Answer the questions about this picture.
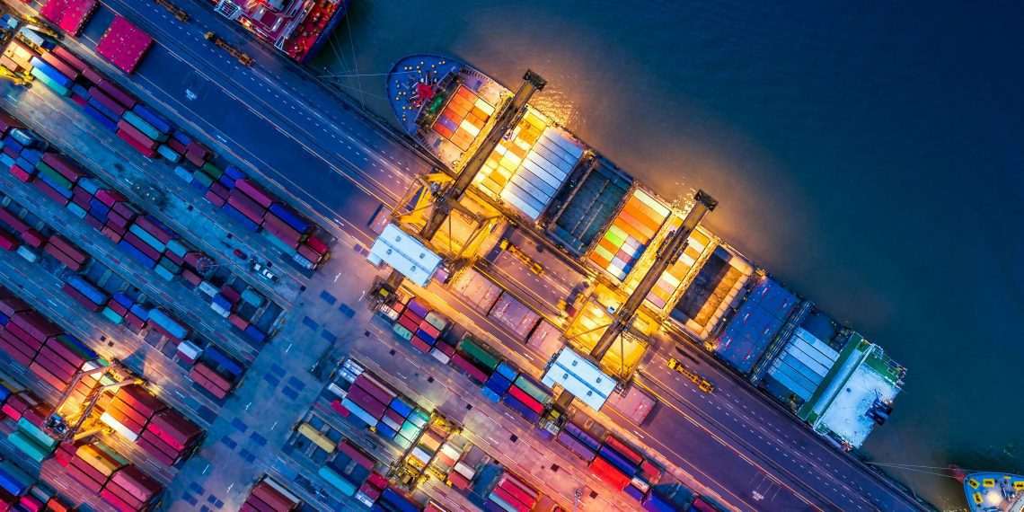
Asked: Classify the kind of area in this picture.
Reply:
port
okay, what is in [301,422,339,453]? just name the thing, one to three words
shipping container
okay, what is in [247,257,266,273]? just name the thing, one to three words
vehicle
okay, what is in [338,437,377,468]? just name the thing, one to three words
shipping container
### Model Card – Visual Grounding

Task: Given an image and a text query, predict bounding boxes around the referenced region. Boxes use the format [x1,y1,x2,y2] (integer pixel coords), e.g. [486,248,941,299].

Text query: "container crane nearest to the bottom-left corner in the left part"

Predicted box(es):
[38,355,142,446]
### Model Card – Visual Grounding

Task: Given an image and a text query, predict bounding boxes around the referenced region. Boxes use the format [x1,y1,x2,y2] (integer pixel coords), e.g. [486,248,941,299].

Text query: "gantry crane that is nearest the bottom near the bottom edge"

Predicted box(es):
[388,408,467,500]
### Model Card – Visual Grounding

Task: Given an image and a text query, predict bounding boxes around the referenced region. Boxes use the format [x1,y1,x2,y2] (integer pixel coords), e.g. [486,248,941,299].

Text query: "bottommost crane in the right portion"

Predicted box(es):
[540,191,718,423]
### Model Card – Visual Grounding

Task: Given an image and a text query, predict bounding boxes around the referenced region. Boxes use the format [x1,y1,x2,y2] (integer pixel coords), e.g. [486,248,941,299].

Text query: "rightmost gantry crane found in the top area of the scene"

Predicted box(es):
[370,70,547,305]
